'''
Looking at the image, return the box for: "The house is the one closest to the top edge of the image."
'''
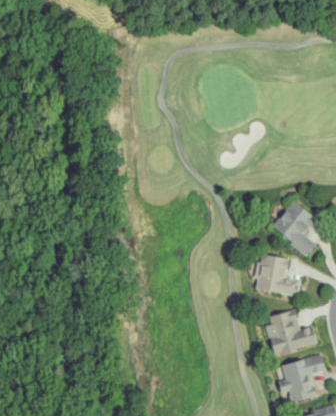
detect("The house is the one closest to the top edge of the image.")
[275,202,318,256]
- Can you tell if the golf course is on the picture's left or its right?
right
